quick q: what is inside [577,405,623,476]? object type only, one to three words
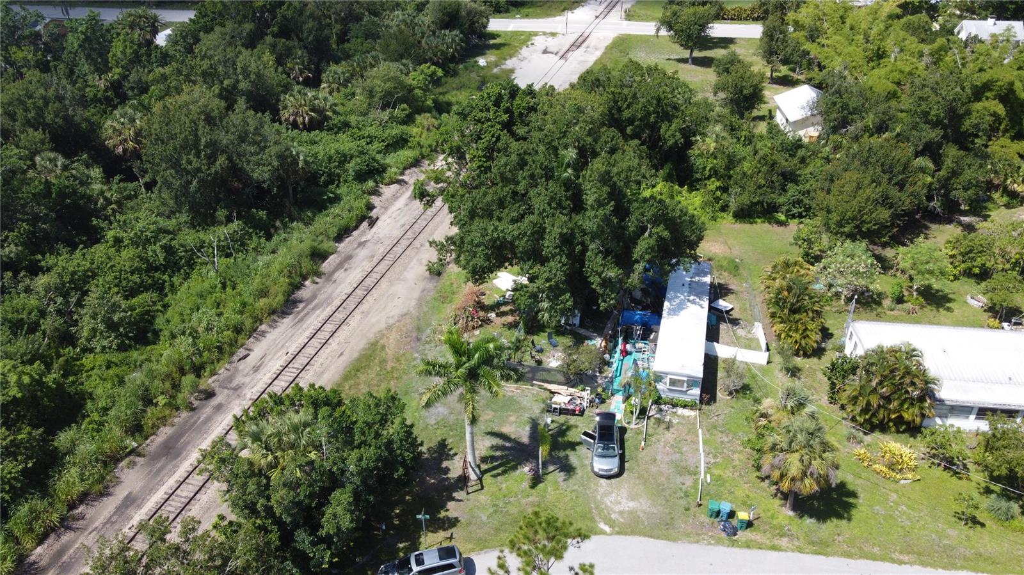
car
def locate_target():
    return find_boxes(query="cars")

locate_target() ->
[371,543,462,575]
[577,405,623,476]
